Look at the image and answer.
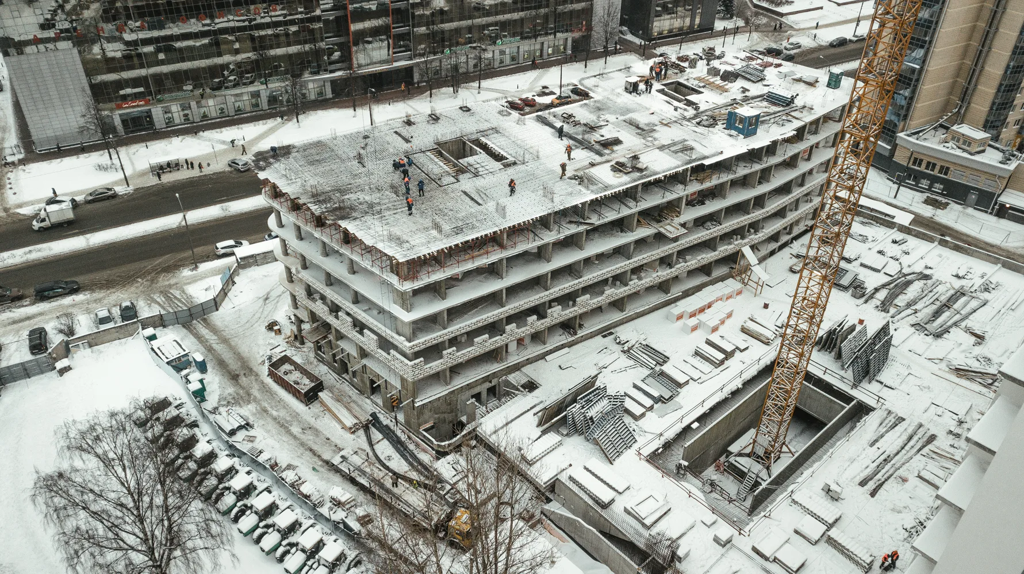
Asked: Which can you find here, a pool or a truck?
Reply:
truck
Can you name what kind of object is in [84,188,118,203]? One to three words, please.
car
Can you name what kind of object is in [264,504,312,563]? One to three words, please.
work vehicle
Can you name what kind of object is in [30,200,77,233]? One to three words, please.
truck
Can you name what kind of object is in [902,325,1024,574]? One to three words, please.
building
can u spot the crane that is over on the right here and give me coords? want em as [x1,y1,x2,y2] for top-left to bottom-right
[726,0,923,493]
